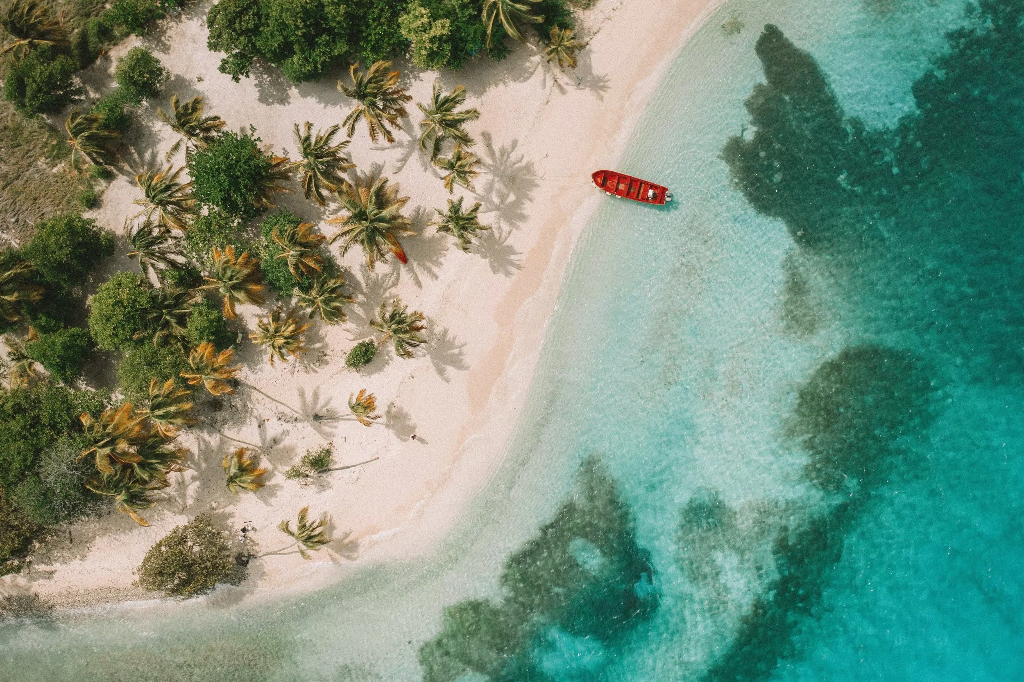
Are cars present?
No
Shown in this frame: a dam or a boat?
boat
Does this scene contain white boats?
No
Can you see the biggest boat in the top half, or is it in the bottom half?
top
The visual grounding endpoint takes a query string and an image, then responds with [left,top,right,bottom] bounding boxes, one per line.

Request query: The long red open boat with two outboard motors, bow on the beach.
[591,171,675,203]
